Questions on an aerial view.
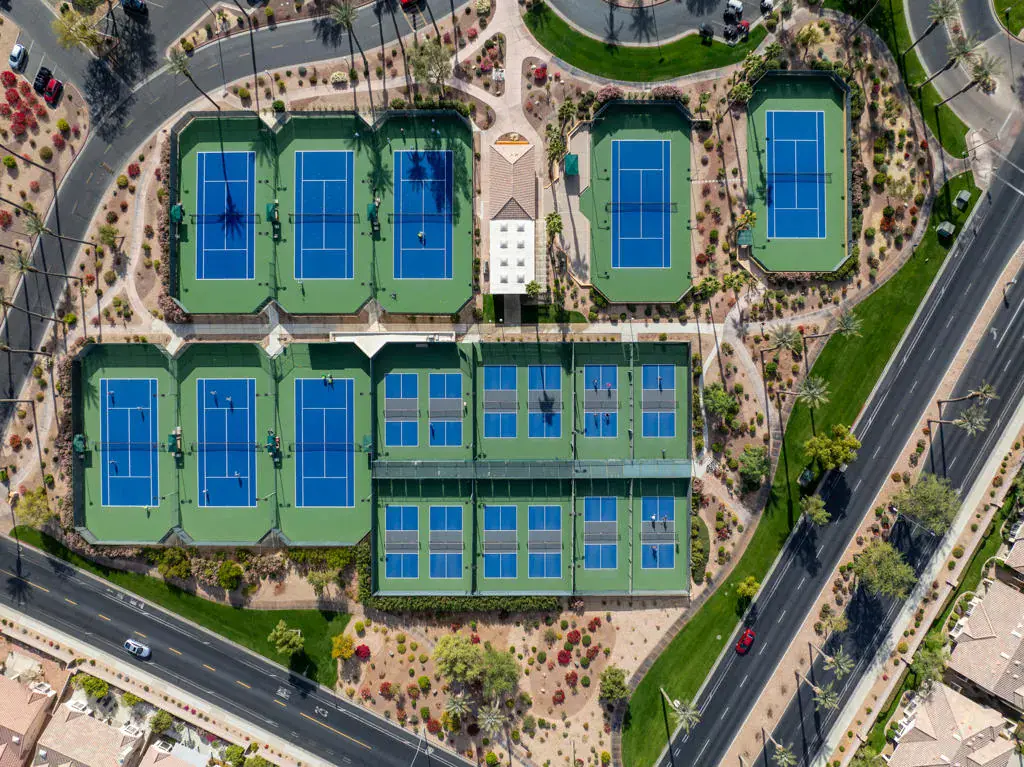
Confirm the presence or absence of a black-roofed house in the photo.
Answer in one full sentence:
No, the picture doesn't show any black-roofed house.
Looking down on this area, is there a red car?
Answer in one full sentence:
Yes, a red car can be made out from above.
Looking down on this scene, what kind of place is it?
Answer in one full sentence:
This looks like a sports ground.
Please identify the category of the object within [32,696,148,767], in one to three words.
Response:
house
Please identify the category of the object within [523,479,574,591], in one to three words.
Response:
sports court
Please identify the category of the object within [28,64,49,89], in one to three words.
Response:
car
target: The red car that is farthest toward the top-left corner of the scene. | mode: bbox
[43,78,62,103]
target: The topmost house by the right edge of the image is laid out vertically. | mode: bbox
[996,506,1024,572]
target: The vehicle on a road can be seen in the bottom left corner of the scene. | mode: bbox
[122,641,149,661]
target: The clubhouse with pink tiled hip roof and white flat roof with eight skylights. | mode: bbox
[489,144,535,296]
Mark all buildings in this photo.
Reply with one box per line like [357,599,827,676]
[883,679,1011,767]
[0,669,63,767]
[32,696,148,767]
[945,579,1024,710]
[996,506,1024,572]
[489,144,535,296]
[140,737,217,767]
